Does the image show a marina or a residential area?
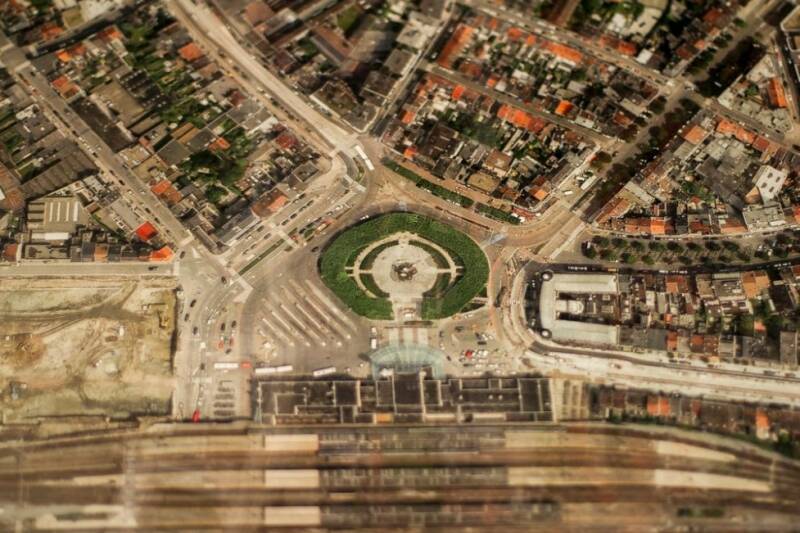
residential area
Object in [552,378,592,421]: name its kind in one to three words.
building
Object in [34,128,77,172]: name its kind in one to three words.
house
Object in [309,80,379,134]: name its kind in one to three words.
building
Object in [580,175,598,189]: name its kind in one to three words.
vehicle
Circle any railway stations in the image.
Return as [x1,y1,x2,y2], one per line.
[258,342,560,427]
